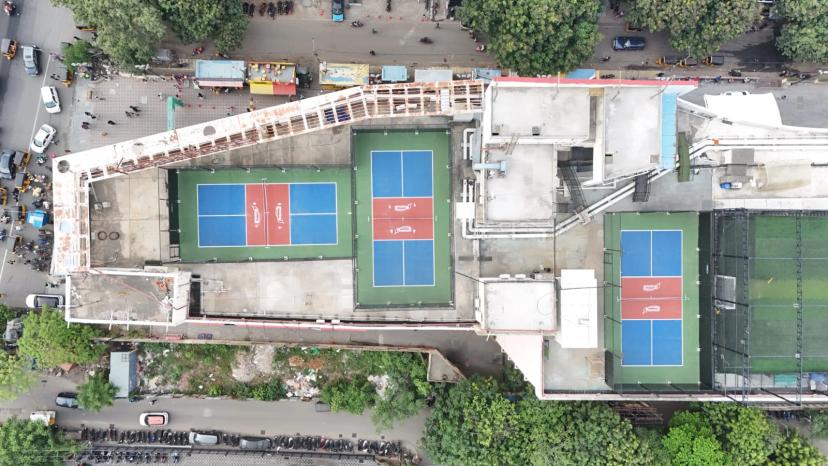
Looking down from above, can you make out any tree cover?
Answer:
Yes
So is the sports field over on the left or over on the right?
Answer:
right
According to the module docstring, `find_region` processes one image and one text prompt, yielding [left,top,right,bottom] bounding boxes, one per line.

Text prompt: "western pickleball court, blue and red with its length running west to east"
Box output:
[179,167,350,262]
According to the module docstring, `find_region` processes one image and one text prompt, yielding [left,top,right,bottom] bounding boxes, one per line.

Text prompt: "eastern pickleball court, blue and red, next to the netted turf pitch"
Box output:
[603,212,701,390]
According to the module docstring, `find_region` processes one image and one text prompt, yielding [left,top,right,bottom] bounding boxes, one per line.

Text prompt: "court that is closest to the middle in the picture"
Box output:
[353,130,452,307]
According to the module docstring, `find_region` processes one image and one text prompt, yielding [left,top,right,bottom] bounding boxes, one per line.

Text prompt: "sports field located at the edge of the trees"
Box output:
[748,214,828,388]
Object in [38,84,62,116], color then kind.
white car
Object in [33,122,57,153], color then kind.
white car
